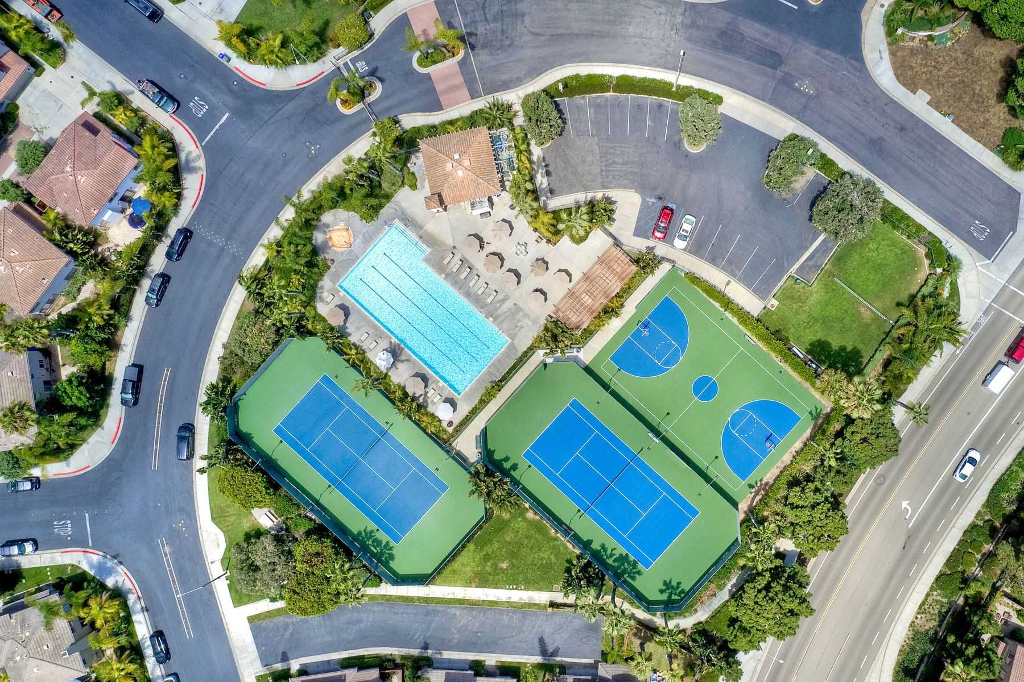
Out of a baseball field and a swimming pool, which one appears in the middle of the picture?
swimming pool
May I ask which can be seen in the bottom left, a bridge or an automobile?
automobile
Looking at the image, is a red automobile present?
Yes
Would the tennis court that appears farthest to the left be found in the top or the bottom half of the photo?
bottom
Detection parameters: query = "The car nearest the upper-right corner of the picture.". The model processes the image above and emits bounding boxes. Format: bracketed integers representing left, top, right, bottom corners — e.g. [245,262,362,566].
[1002,321,1024,359]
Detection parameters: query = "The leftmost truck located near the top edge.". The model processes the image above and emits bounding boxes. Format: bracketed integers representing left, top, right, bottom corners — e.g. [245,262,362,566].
[24,0,64,22]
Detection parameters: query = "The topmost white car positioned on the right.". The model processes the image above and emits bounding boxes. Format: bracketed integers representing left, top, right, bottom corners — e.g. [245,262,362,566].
[674,214,696,250]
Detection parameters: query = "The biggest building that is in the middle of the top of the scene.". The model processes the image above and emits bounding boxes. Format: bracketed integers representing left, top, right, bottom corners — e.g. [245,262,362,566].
[417,124,503,207]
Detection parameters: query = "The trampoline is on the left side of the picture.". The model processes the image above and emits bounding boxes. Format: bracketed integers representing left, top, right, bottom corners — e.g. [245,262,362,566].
[124,210,144,229]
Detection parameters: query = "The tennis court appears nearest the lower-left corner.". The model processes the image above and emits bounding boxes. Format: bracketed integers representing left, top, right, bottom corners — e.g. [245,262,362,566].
[236,340,480,581]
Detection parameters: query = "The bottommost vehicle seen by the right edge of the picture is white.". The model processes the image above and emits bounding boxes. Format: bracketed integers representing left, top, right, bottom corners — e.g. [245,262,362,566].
[950,447,978,483]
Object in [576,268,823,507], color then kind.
green basketball court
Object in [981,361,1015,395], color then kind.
white trailer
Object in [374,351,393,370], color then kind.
white umbrella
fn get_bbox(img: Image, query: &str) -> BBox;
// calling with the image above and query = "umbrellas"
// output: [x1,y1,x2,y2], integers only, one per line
[374,351,393,370]
[459,235,480,256]
[482,252,502,273]
[436,402,453,420]
[326,308,344,326]
[131,196,152,215]
[525,289,544,308]
[491,220,511,240]
[497,270,518,291]
[406,377,425,396]
[550,269,571,291]
[531,259,547,275]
